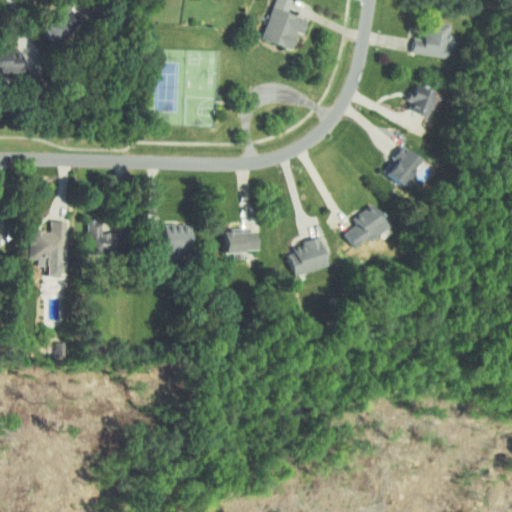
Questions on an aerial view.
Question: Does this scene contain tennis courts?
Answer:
Yes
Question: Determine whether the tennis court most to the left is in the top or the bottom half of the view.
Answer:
top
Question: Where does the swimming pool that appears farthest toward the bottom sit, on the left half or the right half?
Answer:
left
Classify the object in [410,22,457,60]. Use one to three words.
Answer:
house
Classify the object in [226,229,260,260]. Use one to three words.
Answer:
house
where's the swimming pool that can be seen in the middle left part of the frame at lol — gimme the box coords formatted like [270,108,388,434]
[42,276,62,326]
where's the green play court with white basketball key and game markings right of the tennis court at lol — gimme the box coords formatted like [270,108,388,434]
[184,50,220,128]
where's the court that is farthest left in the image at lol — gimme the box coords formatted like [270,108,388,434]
[146,50,184,127]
